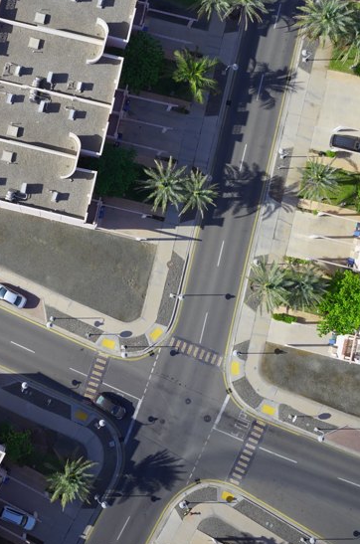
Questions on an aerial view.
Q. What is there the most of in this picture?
paved ground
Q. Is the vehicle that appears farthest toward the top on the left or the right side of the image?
right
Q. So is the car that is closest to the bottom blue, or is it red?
blue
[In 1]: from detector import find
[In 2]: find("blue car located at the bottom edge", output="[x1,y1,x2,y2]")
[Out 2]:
[0,504,36,529]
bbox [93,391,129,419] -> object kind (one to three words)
car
